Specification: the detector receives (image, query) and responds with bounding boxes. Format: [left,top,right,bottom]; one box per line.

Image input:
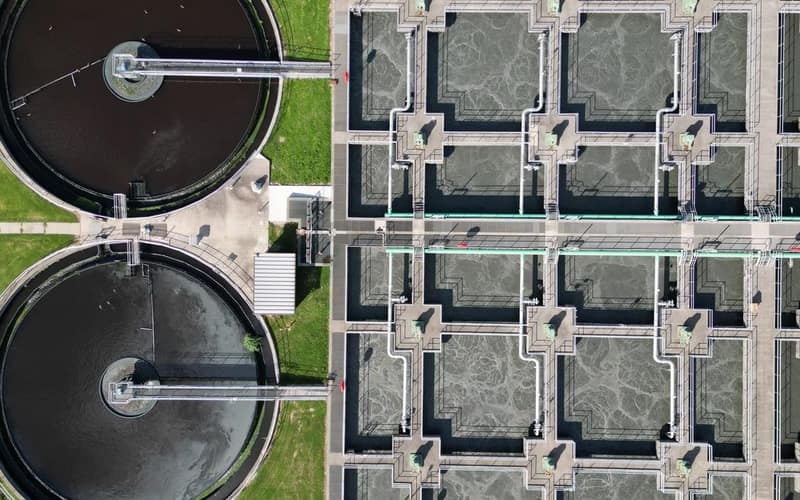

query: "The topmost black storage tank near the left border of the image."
[0,0,280,219]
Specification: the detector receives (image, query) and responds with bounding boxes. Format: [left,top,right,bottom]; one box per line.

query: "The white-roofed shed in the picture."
[252,253,301,314]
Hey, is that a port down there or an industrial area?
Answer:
industrial area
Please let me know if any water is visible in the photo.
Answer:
Yes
